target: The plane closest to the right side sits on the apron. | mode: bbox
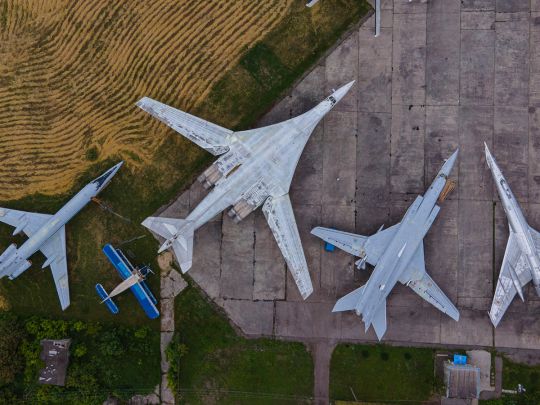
[485,142,540,327]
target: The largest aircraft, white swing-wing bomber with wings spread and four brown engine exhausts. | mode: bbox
[133,81,354,297]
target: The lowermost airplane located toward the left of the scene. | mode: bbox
[96,245,158,319]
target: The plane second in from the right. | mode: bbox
[309,149,460,340]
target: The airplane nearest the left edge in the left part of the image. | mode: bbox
[0,160,123,311]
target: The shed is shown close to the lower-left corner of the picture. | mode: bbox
[40,339,73,385]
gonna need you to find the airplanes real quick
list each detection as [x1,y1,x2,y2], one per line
[309,149,460,340]
[133,81,354,297]
[0,160,123,311]
[485,142,540,327]
[96,245,158,319]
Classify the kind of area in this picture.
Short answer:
airport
